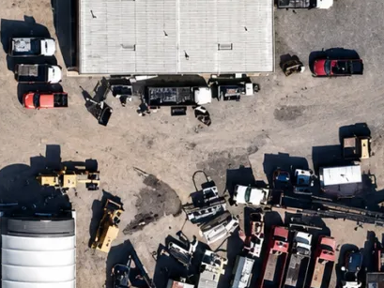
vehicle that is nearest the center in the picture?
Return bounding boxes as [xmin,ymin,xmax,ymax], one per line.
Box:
[191,104,212,123]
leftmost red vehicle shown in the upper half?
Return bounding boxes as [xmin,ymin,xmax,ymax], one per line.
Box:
[22,89,66,110]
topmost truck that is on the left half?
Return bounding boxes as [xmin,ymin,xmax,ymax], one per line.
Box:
[9,35,55,57]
